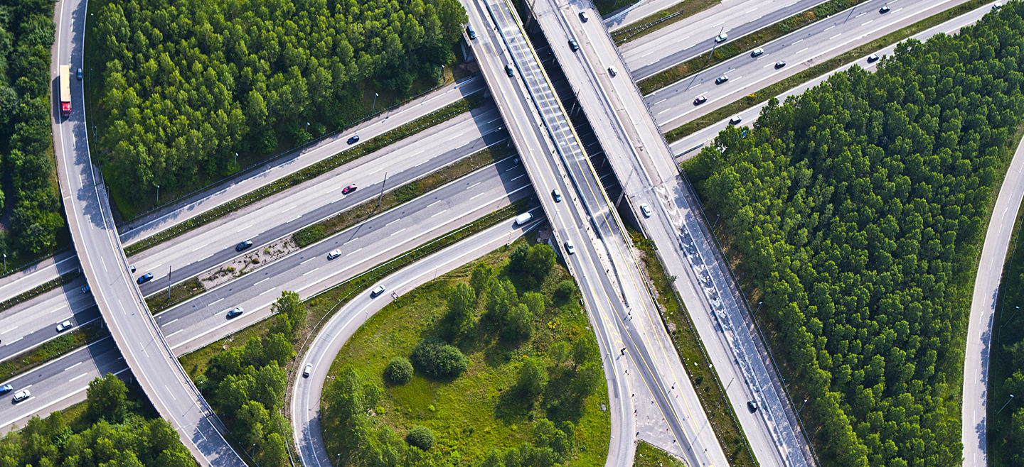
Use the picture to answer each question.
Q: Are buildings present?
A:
No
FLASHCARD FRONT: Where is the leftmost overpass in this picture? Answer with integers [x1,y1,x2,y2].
[62,167,222,440]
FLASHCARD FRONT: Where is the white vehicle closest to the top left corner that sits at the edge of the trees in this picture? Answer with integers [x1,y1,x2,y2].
[60,66,72,121]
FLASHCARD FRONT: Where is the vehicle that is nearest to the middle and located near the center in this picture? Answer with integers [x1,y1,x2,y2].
[515,212,535,226]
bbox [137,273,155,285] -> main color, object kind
blue vehicle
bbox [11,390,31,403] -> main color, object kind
white vehicle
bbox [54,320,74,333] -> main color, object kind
white vehicle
